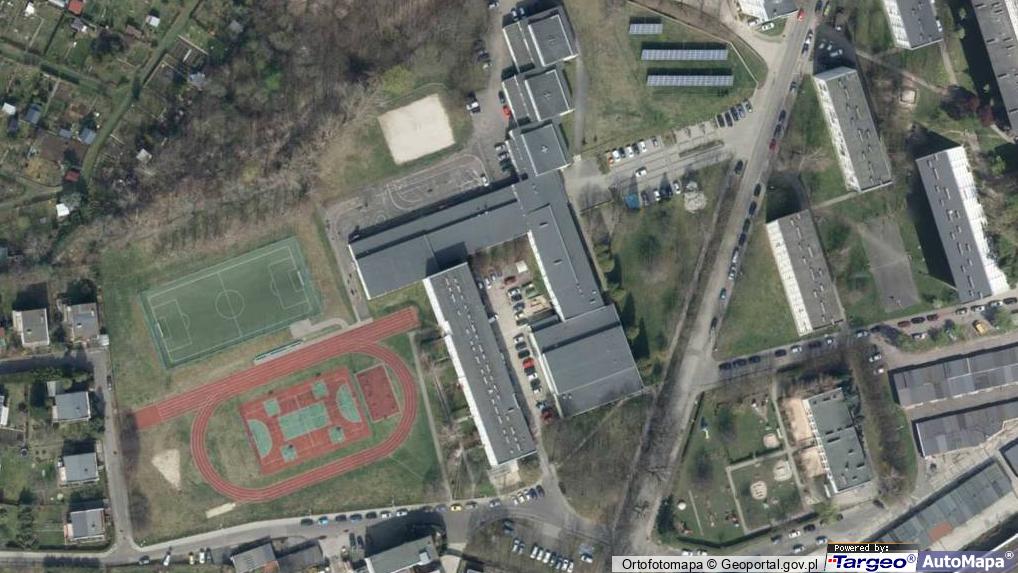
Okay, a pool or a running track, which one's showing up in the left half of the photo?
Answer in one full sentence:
There is a running track in the left half of the photo.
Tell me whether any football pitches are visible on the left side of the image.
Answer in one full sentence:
Yes, a football pitch can be seen on the left side of the image.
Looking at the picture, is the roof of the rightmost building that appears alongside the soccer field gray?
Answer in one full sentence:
Yes, the roof of the rightmost building that appears alongside the soccer field is indeed gray.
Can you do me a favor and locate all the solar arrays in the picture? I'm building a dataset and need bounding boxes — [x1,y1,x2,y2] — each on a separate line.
[642,50,729,60]
[647,76,734,86]
[628,23,665,33]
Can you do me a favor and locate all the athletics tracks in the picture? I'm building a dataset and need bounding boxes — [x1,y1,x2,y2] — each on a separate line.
[135,305,420,503]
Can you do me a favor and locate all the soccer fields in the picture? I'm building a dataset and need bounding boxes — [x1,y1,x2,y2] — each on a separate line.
[139,236,321,368]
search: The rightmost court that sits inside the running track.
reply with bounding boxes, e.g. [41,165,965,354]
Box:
[356,364,400,422]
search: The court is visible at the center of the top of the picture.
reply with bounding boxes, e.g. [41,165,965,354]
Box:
[378,93,455,165]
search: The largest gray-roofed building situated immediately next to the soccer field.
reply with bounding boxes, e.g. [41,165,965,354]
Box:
[347,6,645,464]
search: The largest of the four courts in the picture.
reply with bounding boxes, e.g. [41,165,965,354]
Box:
[240,366,373,476]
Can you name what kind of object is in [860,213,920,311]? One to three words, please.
sports court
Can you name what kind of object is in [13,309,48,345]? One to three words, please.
house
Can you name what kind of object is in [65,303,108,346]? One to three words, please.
house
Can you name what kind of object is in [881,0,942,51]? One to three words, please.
building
